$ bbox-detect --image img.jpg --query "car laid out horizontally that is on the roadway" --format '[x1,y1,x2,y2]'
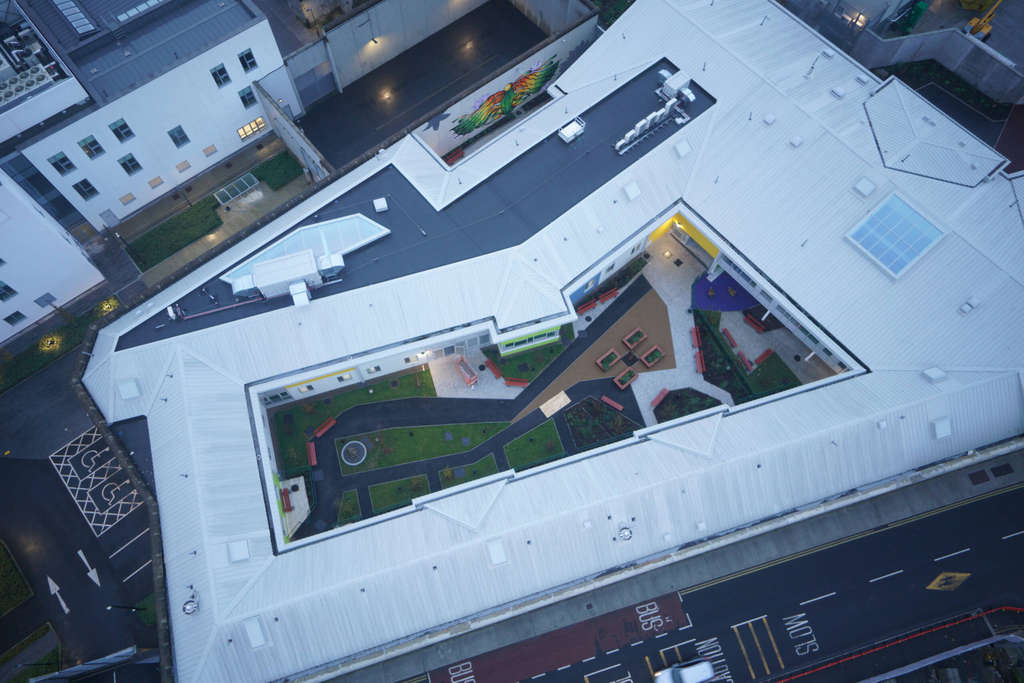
[657,654,719,683]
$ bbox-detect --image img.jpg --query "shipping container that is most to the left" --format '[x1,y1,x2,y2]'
[892,1,929,38]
